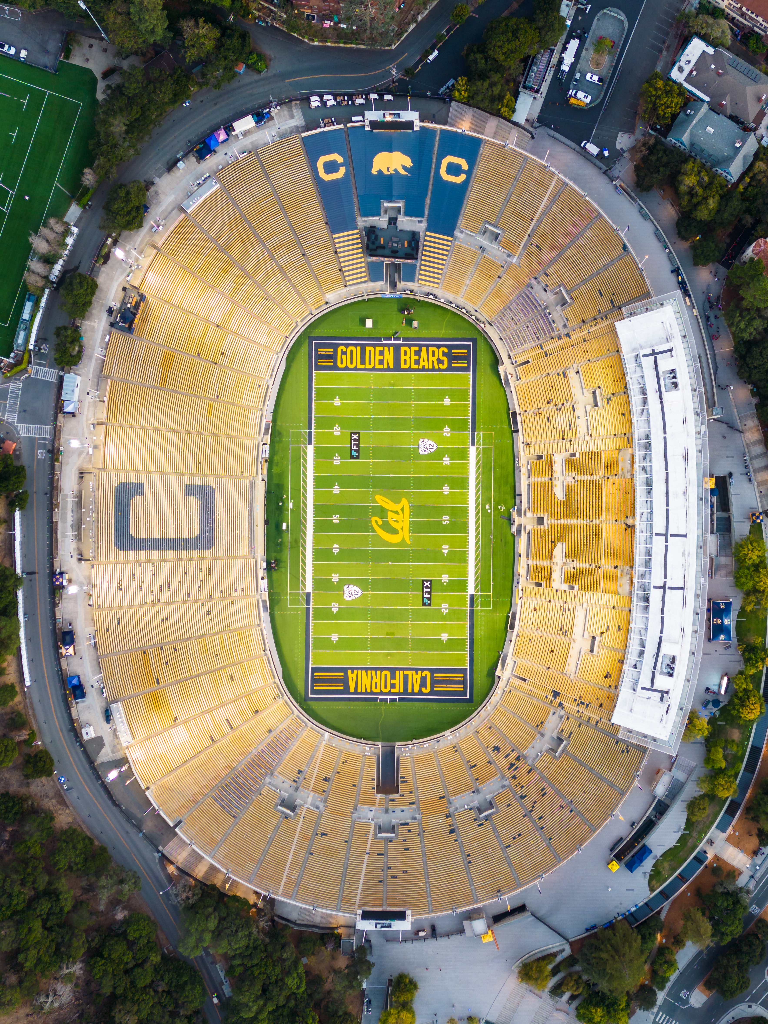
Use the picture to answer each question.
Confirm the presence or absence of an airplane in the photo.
No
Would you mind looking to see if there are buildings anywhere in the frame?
Yes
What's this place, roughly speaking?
sports ground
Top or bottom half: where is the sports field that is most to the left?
top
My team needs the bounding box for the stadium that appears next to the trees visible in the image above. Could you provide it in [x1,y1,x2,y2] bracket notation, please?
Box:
[53,99,655,920]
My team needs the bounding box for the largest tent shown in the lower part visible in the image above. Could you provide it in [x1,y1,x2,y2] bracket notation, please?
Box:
[708,600,732,641]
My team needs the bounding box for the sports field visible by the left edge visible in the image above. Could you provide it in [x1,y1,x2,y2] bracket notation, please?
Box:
[0,57,99,358]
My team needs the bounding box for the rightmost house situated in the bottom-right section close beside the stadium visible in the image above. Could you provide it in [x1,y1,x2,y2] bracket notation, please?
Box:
[648,767,675,800]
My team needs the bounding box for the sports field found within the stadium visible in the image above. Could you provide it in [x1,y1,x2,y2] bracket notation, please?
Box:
[265,297,516,740]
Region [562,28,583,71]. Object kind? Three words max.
truck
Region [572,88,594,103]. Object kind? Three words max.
vehicle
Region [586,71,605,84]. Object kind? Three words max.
vehicle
